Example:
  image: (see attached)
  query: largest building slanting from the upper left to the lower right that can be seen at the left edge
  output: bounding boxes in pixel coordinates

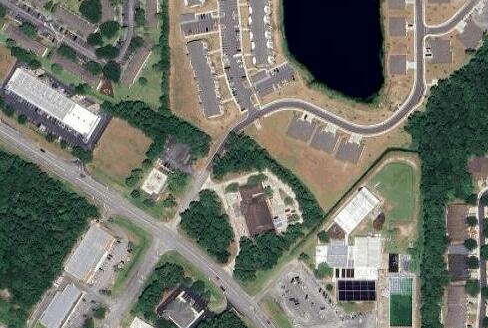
[5,64,101,141]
